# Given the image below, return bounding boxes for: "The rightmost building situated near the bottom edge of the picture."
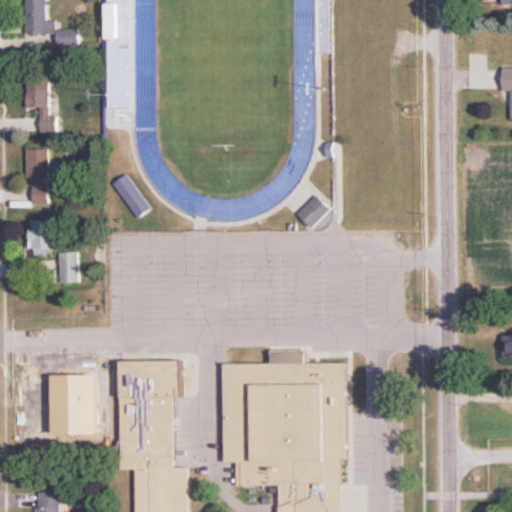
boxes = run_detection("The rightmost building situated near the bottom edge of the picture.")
[222,352,348,512]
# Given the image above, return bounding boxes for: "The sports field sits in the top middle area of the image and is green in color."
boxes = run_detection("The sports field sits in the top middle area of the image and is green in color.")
[156,0,294,199]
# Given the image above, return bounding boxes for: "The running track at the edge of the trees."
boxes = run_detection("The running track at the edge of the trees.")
[136,0,314,220]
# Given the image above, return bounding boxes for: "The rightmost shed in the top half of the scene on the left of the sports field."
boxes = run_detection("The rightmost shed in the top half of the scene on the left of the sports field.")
[113,174,152,218]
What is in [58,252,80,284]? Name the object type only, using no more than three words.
house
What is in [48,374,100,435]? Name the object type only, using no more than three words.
shed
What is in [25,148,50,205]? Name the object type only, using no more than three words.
house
